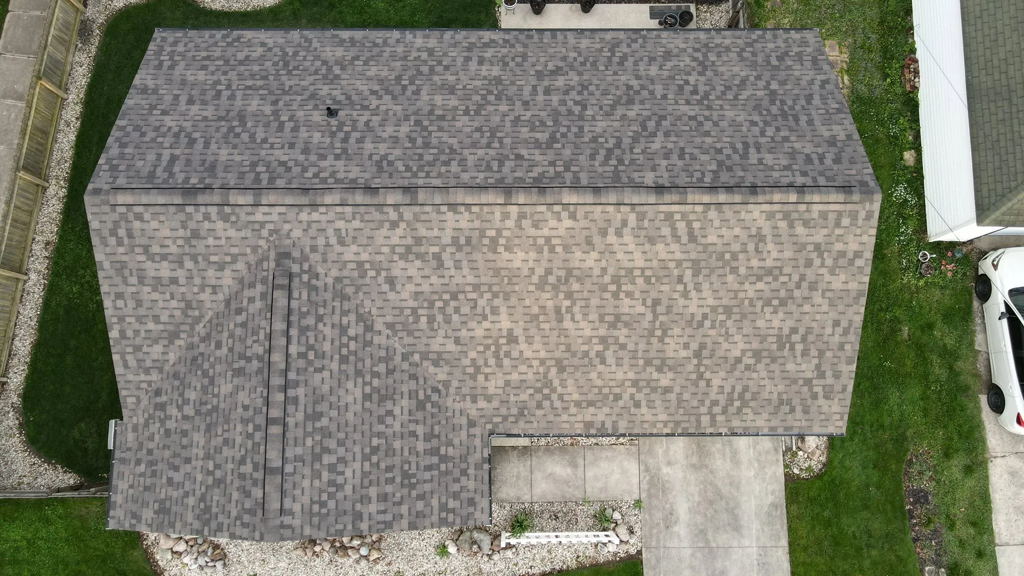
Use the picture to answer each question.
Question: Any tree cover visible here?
No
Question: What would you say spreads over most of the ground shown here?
buildings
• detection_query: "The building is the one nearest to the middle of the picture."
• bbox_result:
[82,28,882,546]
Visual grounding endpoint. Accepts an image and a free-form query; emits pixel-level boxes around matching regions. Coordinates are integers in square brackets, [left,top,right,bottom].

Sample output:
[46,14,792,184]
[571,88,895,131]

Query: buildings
[82,28,882,546]
[914,0,1024,244]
